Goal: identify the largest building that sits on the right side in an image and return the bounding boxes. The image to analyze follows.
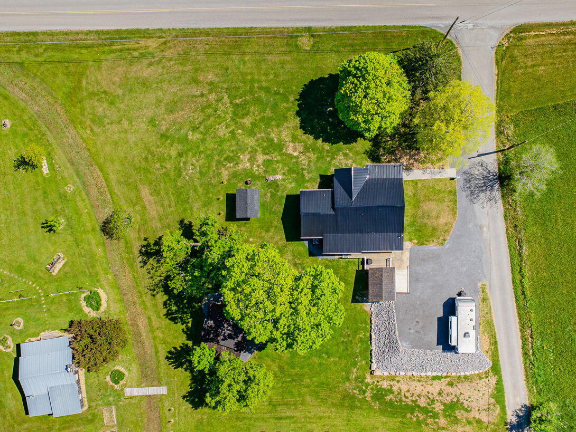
[300,163,406,255]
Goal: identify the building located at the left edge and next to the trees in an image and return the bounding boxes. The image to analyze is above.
[19,336,85,417]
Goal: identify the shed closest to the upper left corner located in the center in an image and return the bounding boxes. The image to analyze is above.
[236,189,260,218]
